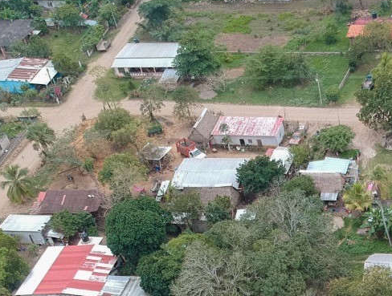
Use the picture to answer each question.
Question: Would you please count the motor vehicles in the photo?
2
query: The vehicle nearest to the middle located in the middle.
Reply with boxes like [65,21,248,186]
[171,129,207,155]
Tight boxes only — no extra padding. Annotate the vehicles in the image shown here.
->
[282,124,306,145]
[171,129,207,155]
